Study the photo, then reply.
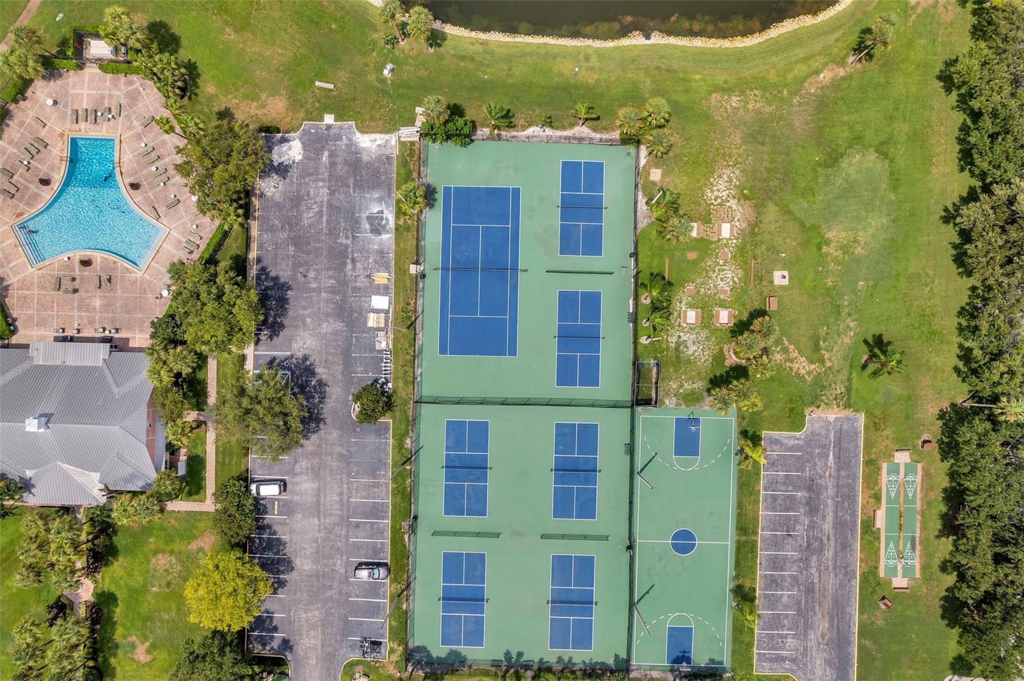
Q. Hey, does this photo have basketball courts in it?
Yes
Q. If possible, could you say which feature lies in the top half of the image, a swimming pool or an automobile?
swimming pool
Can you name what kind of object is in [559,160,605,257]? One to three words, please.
sports court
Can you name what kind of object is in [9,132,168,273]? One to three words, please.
swimming pool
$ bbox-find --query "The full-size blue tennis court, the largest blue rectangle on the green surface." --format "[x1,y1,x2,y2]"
[439,186,521,357]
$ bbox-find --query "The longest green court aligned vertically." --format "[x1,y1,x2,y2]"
[632,408,736,673]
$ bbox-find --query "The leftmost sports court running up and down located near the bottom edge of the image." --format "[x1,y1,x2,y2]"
[441,552,486,648]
